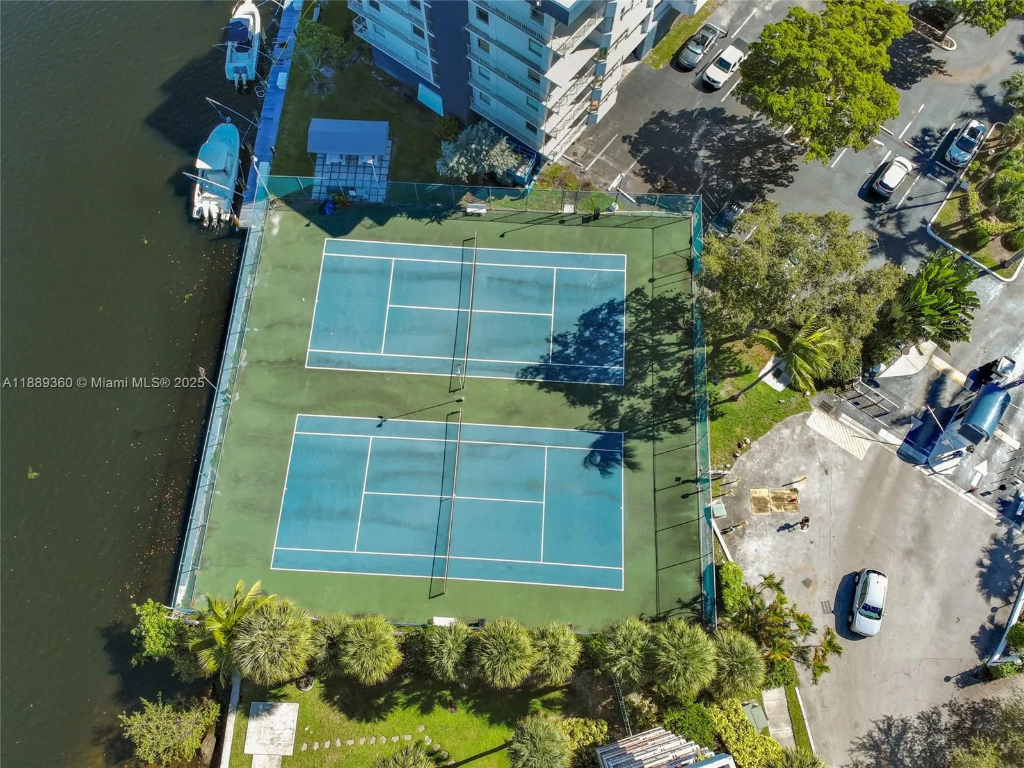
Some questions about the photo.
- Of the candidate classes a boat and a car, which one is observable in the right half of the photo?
car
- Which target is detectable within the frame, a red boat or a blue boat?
blue boat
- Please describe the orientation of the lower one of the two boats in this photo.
vertically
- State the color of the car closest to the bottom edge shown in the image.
white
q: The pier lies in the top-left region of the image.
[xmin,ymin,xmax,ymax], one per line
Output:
[240,0,302,206]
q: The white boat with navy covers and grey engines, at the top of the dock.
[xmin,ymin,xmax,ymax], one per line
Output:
[222,0,261,78]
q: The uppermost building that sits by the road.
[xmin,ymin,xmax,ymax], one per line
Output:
[335,0,705,166]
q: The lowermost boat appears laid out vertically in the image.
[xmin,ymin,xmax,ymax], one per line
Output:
[193,120,243,223]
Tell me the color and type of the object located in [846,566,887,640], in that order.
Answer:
white car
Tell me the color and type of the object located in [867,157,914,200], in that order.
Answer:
white car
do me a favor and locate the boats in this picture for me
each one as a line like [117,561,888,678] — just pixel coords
[222,0,261,78]
[193,120,243,223]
